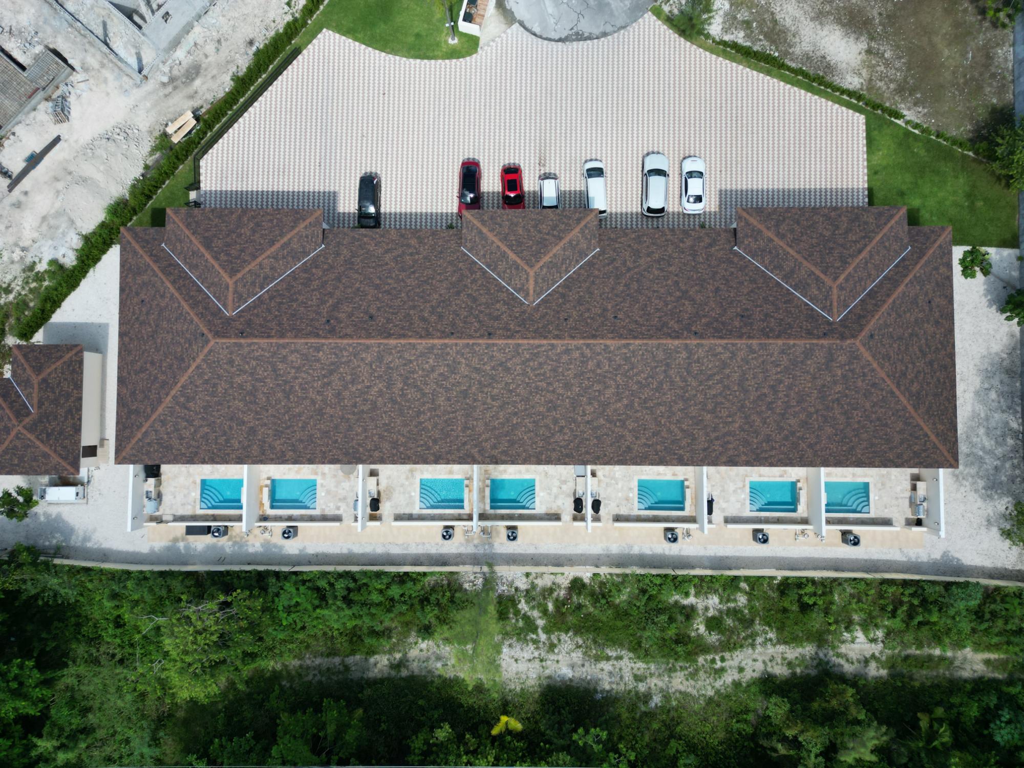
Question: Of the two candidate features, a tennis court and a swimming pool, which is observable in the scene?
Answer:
swimming pool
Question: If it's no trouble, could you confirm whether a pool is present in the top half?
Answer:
No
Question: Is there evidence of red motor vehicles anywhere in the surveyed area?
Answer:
Yes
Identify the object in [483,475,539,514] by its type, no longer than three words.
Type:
swimming pool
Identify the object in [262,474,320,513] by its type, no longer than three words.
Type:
swimming pool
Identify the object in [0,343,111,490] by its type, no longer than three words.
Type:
house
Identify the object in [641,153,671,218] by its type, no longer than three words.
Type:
car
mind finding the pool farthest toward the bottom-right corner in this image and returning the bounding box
[822,477,874,516]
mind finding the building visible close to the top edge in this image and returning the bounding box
[458,0,500,40]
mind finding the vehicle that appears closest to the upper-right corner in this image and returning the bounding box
[679,157,708,217]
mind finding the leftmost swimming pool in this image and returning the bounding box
[196,474,244,512]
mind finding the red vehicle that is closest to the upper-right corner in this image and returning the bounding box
[499,166,527,209]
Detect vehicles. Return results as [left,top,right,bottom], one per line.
[582,160,608,221]
[679,157,708,217]
[537,174,563,209]
[455,160,484,224]
[355,173,383,226]
[499,166,527,209]
[641,153,671,218]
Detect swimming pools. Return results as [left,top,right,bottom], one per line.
[262,474,320,513]
[634,476,692,515]
[822,477,874,516]
[416,475,471,514]
[196,474,244,512]
[746,476,806,516]
[483,475,539,514]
